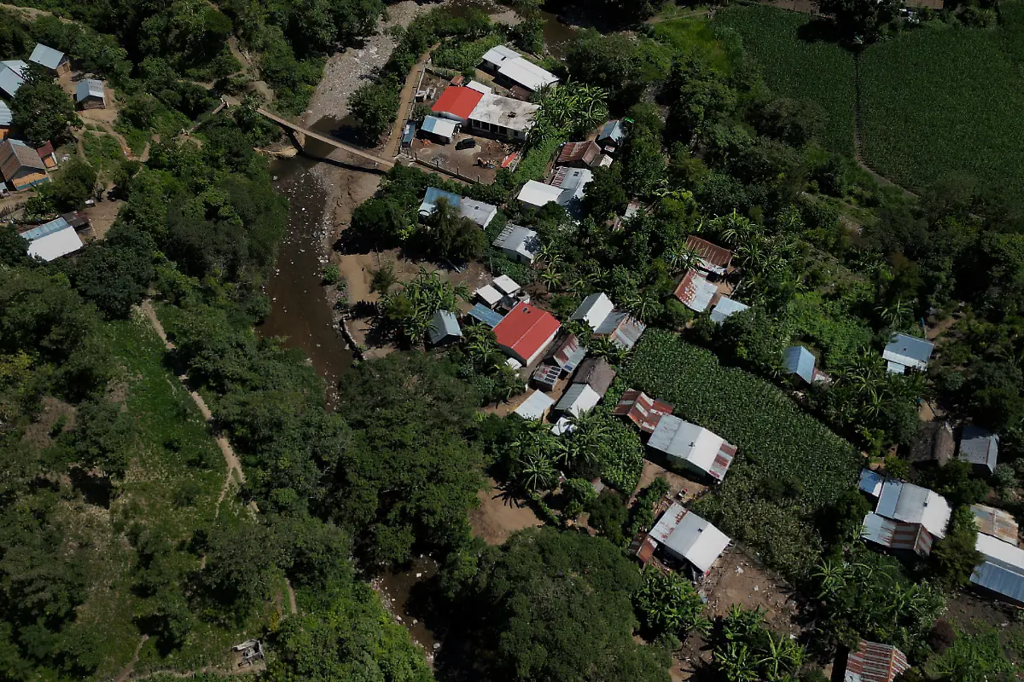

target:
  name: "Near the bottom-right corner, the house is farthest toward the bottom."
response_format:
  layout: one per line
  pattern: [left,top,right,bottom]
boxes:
[845,640,908,682]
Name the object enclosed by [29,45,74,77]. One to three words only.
house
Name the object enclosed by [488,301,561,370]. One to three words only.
house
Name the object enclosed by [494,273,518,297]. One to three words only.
shed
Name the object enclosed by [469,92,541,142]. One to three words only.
building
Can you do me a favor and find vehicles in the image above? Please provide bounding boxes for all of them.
[454,137,476,150]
